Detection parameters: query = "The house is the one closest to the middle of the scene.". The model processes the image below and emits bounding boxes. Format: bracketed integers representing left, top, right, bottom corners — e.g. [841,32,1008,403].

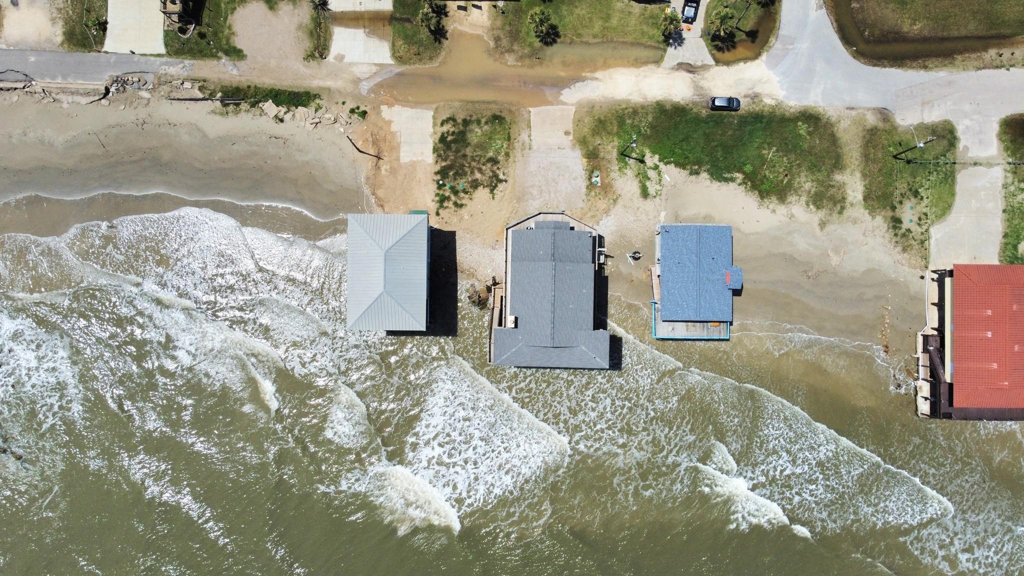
[488,213,610,369]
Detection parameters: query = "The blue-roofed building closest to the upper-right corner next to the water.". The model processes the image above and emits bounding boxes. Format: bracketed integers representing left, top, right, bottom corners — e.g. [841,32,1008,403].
[648,223,742,340]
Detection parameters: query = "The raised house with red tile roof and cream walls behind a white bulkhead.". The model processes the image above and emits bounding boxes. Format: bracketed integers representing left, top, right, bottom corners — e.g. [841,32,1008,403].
[922,264,1024,421]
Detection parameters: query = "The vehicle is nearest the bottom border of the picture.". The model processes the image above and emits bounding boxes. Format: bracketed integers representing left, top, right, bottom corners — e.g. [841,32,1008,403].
[711,95,742,110]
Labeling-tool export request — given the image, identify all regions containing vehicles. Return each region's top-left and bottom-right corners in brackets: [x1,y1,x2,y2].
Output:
[683,0,699,22]
[711,95,742,110]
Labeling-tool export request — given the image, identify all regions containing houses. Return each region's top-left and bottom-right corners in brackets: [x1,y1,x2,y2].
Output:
[346,210,432,332]
[648,223,742,340]
[157,0,194,23]
[488,213,610,369]
[922,264,1024,421]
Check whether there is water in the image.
Yes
